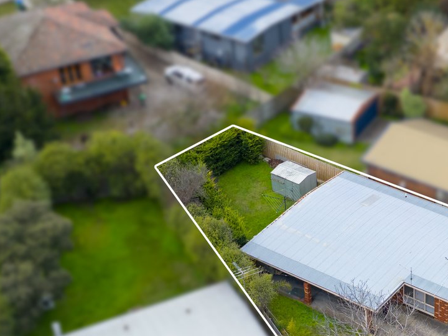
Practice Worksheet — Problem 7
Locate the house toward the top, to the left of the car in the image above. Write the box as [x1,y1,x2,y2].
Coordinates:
[0,0,149,117]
